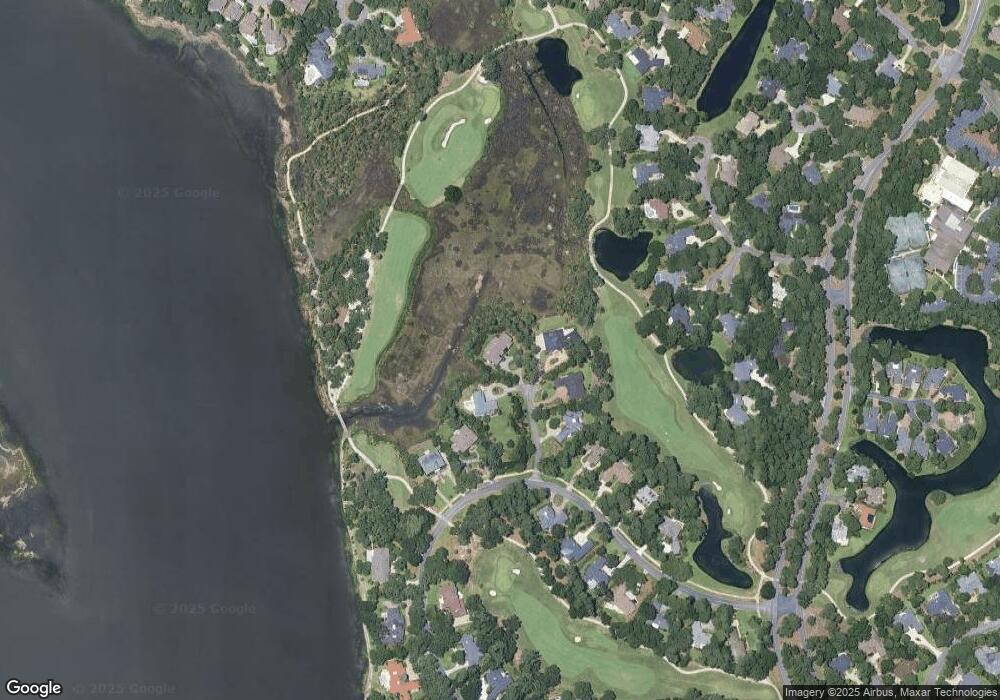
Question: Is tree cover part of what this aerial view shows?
Yes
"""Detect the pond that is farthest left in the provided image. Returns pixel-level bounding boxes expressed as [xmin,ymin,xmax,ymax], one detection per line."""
[535,37,582,97]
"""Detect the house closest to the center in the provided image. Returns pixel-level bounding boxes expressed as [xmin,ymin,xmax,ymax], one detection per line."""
[482,331,515,367]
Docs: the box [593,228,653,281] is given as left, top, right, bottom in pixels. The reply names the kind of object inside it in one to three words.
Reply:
pond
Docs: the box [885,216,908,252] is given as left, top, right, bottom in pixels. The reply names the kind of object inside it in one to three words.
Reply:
tennis court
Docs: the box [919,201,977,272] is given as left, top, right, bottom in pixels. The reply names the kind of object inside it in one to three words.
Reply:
building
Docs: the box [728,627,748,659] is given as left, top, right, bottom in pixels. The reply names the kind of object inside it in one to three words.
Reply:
house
